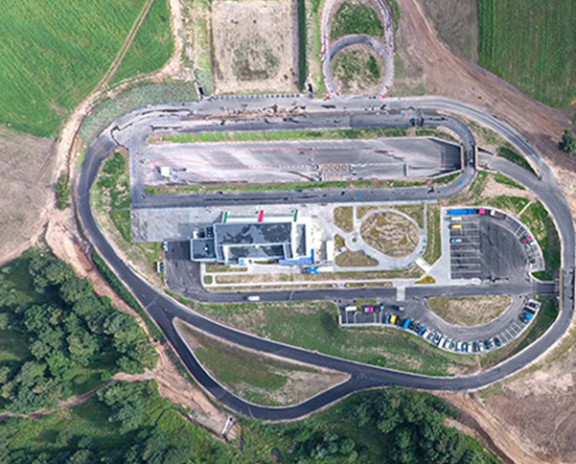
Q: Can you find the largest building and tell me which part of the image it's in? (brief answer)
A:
center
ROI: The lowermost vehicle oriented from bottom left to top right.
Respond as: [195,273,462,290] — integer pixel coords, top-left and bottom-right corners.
[220,419,232,435]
